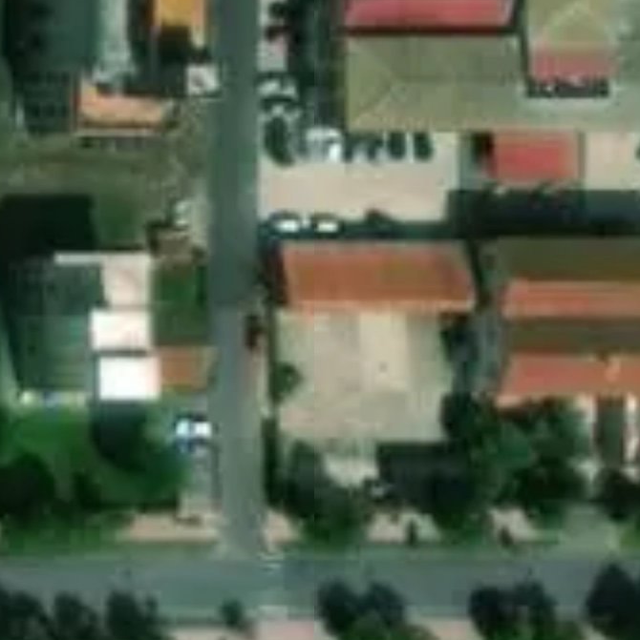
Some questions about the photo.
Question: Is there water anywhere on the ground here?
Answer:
No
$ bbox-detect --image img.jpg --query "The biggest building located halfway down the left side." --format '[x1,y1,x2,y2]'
[21,252,163,399]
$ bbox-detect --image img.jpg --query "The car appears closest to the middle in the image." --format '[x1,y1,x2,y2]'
[245,315,265,350]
